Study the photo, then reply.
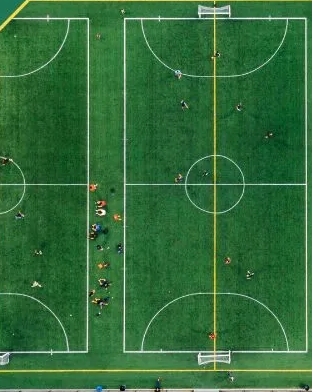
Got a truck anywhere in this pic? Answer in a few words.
No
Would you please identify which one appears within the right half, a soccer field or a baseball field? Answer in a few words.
soccer field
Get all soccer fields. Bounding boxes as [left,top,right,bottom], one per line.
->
[0,16,89,355]
[122,16,307,352]
[0,0,312,390]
